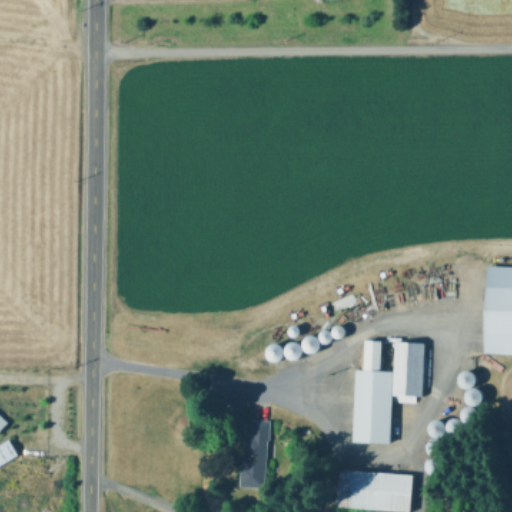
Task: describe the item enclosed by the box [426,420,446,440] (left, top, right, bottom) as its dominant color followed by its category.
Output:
white silo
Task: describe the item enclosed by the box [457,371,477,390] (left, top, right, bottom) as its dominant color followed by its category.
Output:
white silo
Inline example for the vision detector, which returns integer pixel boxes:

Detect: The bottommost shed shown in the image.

[338,472,413,512]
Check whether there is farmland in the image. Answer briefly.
Yes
